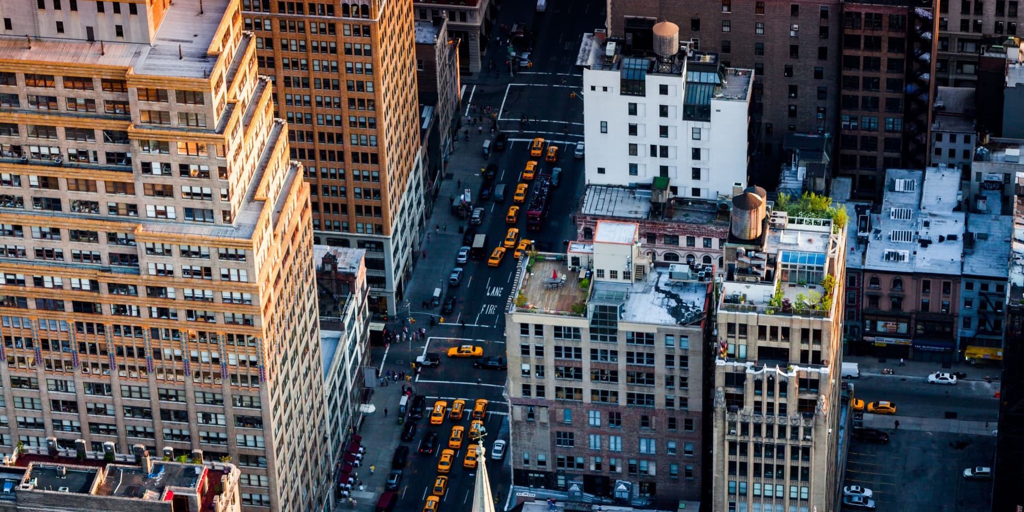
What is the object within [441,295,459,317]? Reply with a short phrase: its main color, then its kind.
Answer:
black car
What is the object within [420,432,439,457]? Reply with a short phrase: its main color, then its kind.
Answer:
black car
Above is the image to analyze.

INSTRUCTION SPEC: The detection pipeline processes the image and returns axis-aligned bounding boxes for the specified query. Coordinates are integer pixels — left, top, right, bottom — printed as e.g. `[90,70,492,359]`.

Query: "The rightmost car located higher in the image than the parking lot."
[924,372,959,387]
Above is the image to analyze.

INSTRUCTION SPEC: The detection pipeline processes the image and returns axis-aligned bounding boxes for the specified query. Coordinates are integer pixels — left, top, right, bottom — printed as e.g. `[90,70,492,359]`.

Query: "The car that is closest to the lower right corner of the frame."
[961,465,994,482]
